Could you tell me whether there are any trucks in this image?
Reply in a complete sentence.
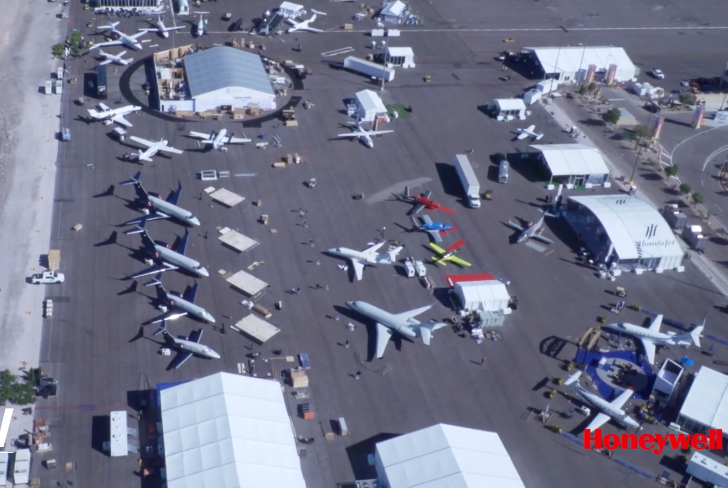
Yes, there's a truck here.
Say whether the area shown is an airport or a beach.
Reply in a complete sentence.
It's an airport.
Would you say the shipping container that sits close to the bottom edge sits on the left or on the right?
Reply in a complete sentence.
The shipping container that sits close to the bottom edge is on the right side of the image.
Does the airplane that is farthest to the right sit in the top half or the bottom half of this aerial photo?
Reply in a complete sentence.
You can find the airplane that is farthest to the right in the bottom half.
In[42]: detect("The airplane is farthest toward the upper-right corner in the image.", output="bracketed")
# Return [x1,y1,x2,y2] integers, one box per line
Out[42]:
[515,113,557,134]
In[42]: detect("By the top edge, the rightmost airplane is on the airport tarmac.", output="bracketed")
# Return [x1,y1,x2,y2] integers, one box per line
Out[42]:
[287,6,327,33]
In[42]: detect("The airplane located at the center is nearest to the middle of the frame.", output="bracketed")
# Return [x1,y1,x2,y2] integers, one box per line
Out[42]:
[325,239,410,283]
